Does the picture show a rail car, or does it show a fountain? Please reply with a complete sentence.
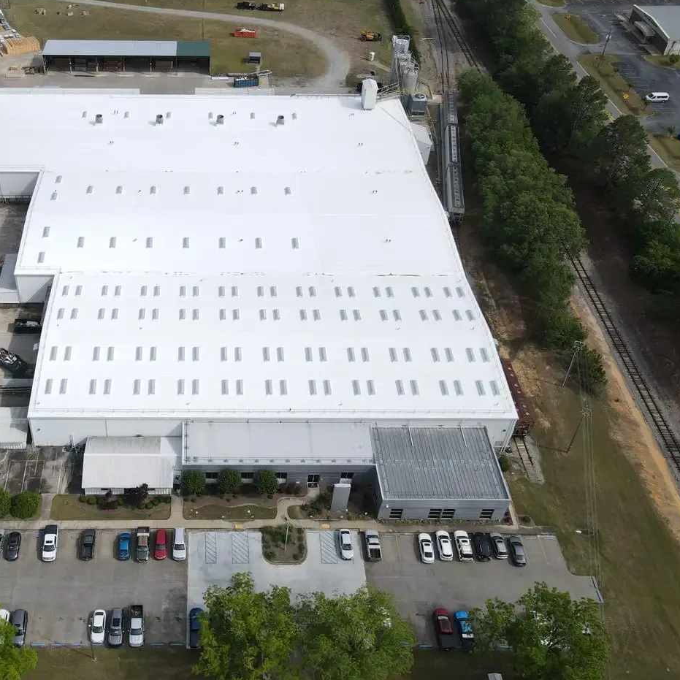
This aerial view contains a rail car.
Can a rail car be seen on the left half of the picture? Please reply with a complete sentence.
No, there's no rail car to be seen on the left half of the picture.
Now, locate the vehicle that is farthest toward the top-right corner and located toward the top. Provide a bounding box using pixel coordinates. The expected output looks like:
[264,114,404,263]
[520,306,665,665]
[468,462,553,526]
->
[643,91,669,104]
